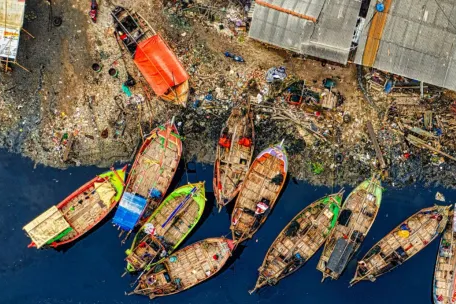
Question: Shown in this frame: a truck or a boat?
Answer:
boat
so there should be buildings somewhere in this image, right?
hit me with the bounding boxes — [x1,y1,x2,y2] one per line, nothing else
[354,0,456,97]
[248,0,363,66]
